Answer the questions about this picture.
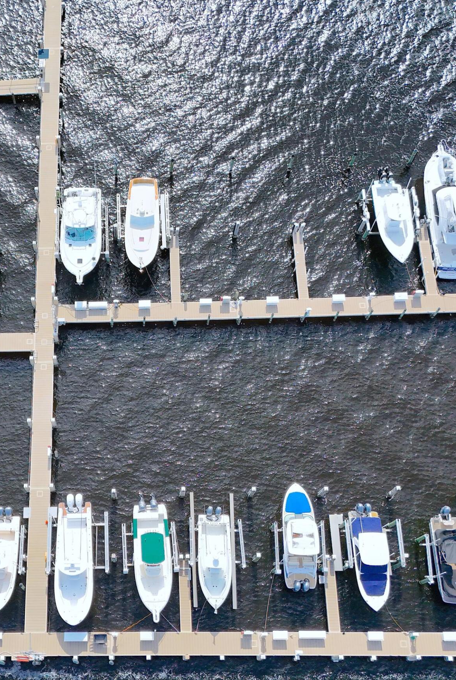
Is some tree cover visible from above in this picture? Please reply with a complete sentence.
No, there is no tree cover in the image.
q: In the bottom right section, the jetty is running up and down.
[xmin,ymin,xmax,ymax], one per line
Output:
[325,559,341,632]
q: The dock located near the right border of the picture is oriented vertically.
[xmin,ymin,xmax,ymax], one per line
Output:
[420,226,437,294]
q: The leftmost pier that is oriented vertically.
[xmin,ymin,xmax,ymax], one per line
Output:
[24,0,62,633]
